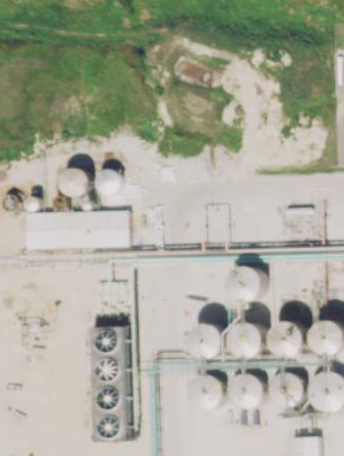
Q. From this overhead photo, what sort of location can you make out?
industrial area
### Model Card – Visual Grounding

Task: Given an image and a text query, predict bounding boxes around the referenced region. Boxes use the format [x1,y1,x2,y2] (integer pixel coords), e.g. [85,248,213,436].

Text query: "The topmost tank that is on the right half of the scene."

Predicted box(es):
[226,265,270,302]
